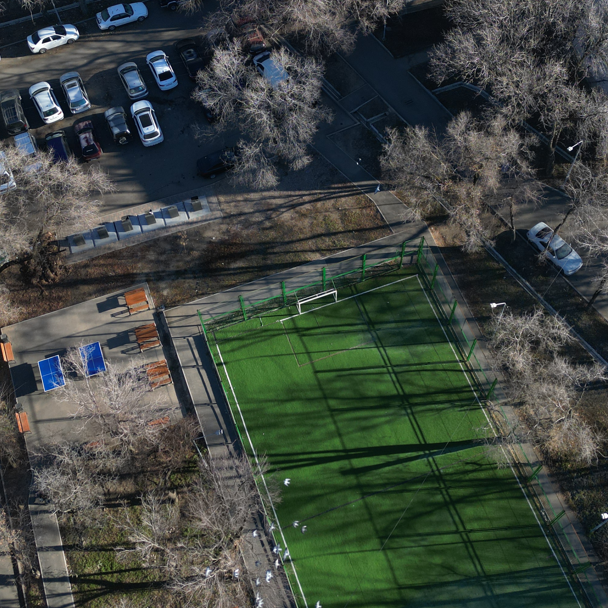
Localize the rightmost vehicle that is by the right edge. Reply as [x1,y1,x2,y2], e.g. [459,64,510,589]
[529,224,579,277]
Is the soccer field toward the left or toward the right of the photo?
right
